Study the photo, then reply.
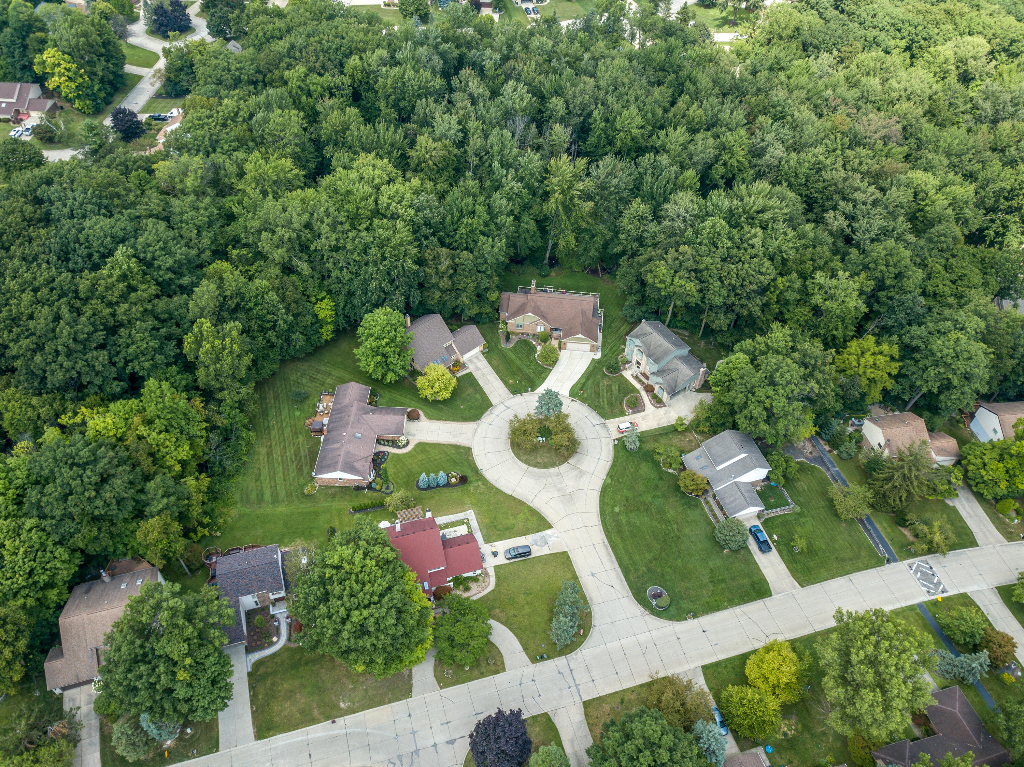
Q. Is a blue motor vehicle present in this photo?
Yes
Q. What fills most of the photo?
trees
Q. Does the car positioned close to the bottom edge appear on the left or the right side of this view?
right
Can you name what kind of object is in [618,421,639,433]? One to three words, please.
vehicle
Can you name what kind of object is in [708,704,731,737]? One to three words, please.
car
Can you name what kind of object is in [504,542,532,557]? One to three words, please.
vehicle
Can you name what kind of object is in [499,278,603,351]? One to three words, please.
house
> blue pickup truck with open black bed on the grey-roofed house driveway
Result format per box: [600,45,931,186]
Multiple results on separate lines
[751,524,774,553]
